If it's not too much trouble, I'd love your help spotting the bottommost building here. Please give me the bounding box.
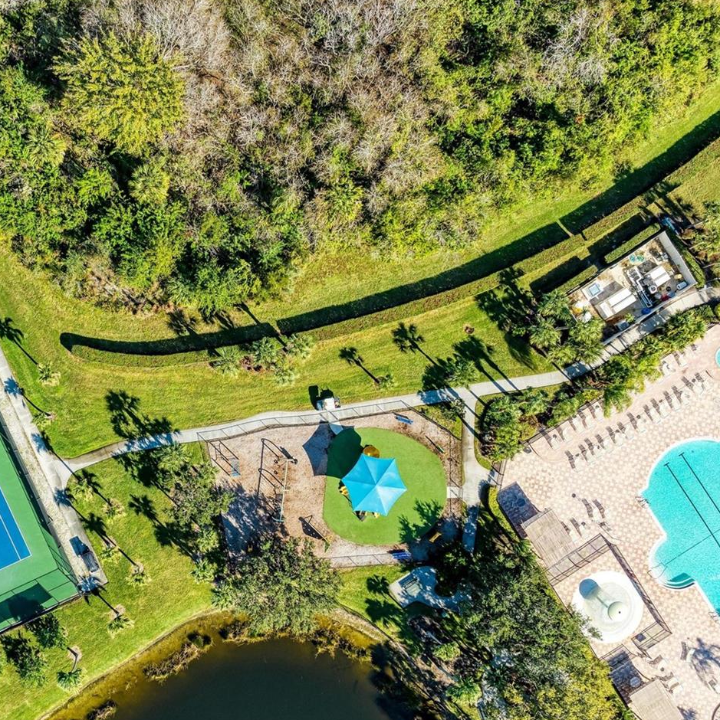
[623,674,683,720]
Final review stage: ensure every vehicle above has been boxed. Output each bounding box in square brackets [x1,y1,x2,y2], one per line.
[80,550,97,574]
[315,399,339,411]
